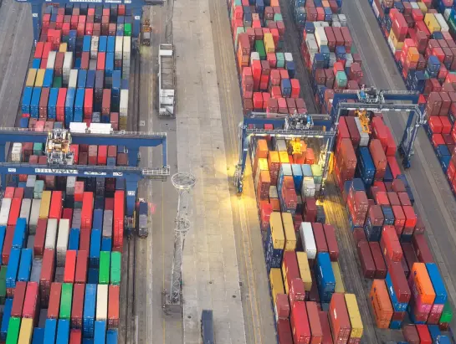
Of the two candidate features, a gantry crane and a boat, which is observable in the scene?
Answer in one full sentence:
Of the two, only a gantry crane appears.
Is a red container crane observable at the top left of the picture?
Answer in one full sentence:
No, no red container crane appears at the top left of the picture.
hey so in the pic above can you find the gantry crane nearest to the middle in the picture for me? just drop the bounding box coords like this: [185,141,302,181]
[233,106,340,192]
